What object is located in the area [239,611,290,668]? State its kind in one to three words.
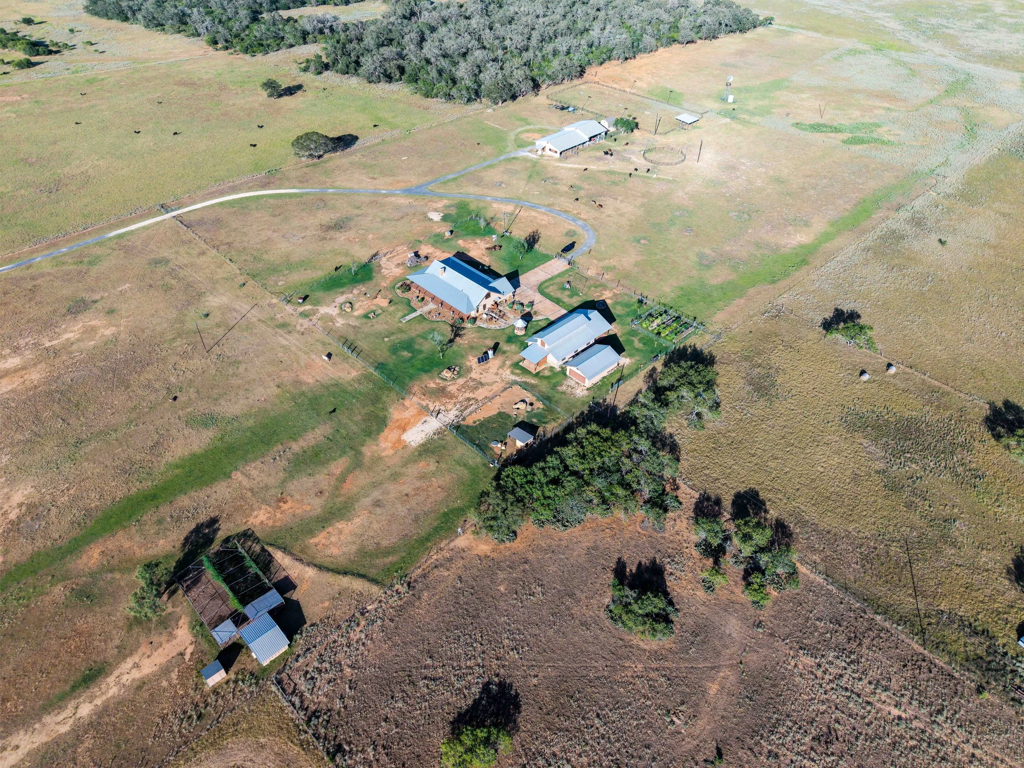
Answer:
shed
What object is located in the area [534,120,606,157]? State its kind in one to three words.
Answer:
barn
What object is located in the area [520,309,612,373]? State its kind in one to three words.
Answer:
building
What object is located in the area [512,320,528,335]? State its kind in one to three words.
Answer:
gazebo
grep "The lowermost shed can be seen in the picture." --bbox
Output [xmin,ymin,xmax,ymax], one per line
[200,660,227,686]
